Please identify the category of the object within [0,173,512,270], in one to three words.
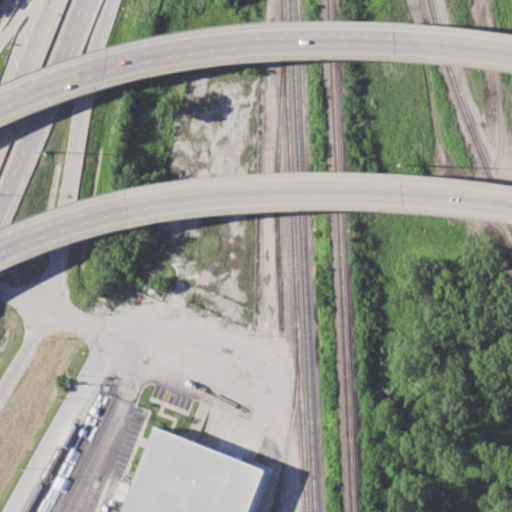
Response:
overpass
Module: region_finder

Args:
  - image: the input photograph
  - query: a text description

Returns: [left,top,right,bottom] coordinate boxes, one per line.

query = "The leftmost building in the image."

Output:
[119,426,265,512]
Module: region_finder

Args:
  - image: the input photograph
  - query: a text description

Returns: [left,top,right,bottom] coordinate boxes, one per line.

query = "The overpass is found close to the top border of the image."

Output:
[0,22,512,126]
